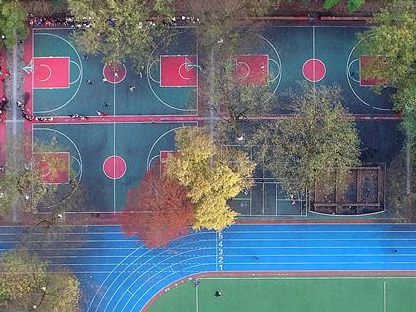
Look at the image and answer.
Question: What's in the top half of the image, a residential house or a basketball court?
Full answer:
Looking in the top half of the image, you will find a basketball court.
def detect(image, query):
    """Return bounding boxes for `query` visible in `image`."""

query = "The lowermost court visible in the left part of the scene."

[32,122,198,214]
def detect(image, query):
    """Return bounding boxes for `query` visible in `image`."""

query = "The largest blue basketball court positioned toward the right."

[233,25,397,116]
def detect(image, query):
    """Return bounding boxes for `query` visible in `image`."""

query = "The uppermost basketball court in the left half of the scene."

[32,27,198,117]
